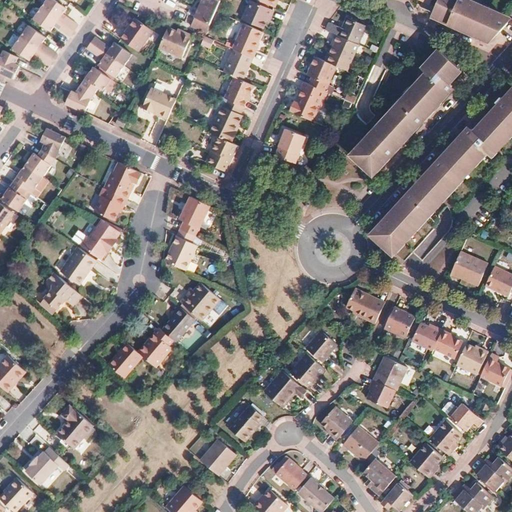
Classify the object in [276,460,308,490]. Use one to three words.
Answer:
house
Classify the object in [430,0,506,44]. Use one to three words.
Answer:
building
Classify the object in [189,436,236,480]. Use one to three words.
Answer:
house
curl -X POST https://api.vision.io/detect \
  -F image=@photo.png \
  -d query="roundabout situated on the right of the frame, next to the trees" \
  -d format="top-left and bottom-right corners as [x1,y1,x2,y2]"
[296,213,363,281]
